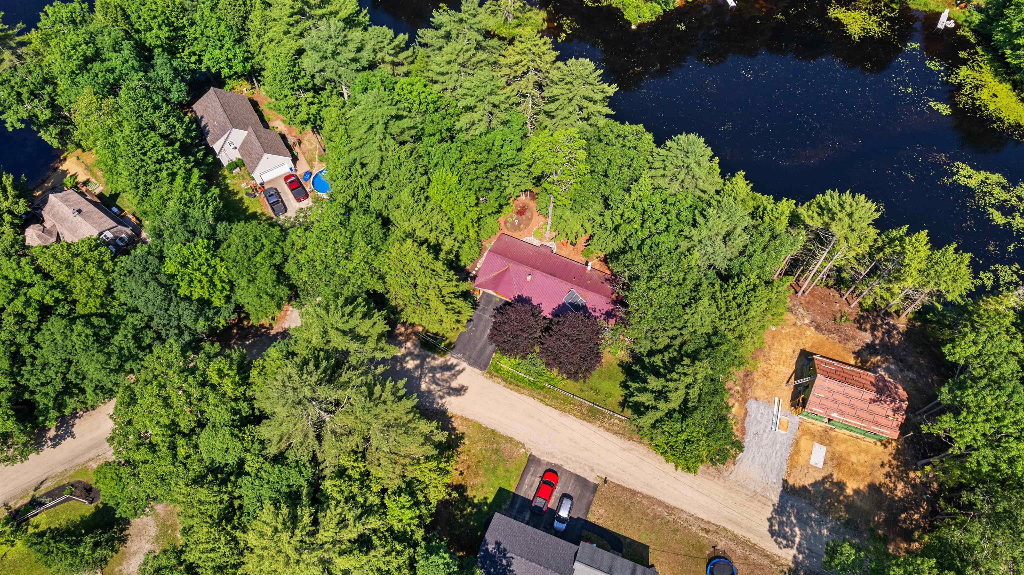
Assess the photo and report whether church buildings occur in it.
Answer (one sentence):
No, no church building is visible in the scene.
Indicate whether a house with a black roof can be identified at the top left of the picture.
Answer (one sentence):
No, no house with a black roof is visible at the top left of the picture.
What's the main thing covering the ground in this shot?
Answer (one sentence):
What you mostly see from above here is trees.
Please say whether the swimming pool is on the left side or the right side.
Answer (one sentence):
The swimming pool is on the left side of the image.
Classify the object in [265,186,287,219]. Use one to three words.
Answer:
truck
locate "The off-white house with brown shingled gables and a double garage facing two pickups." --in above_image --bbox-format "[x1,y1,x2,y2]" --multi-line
[195,87,295,184]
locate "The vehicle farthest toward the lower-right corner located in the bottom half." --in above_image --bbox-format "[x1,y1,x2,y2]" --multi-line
[554,490,575,534]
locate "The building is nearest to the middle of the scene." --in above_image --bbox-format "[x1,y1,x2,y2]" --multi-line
[471,234,623,340]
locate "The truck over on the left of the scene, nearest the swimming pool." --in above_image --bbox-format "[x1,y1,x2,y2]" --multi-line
[286,173,308,205]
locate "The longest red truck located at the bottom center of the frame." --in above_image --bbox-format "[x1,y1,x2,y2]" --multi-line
[532,466,556,516]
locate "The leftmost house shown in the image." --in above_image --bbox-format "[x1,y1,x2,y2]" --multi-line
[22,189,144,272]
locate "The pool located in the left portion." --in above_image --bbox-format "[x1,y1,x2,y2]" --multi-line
[309,167,337,188]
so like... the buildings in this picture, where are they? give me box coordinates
[195,87,295,184]
[794,356,911,443]
[472,512,661,575]
[22,189,144,272]
[471,234,623,340]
